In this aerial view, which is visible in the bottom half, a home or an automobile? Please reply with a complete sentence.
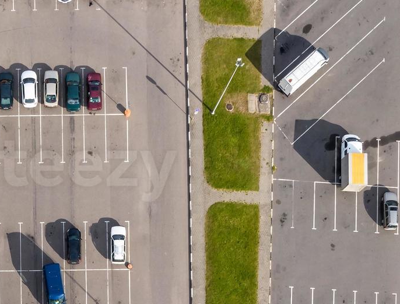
The one visible in the bottom half is an automobile.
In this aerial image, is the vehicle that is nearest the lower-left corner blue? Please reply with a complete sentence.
Yes, the vehicle that is nearest the lower-left corner is indeed blue.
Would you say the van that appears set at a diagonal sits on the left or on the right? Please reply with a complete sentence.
The van that appears set at a diagonal appears in the right half of the scene.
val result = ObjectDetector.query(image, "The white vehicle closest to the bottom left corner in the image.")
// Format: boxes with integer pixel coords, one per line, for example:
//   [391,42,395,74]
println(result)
[109,227,127,264]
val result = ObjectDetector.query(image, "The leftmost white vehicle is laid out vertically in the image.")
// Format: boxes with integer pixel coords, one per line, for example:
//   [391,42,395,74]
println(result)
[20,72,38,108]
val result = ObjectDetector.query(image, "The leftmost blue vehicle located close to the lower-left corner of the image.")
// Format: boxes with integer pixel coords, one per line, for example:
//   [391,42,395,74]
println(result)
[44,263,68,304]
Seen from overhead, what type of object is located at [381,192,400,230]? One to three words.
car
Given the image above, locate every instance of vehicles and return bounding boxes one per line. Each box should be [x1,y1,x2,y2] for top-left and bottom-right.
[0,73,15,110]
[65,228,84,265]
[279,49,327,95]
[381,192,400,230]
[20,72,38,108]
[42,72,60,108]
[65,73,83,112]
[109,227,127,264]
[86,74,104,111]
[339,141,366,198]
[44,263,68,304]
